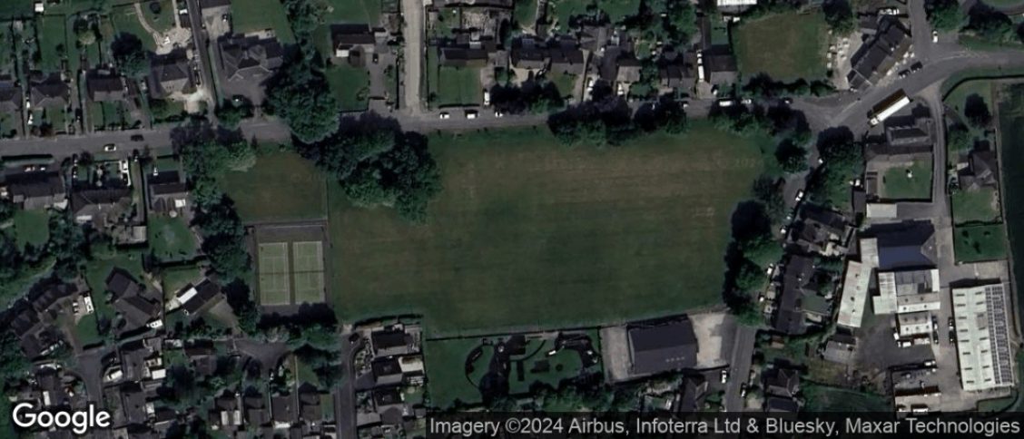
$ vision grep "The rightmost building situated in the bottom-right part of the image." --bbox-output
[953,282,1017,392]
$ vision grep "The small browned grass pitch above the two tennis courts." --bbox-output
[225,136,327,224]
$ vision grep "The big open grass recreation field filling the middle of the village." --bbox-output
[327,117,804,338]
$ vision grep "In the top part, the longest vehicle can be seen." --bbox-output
[871,97,911,124]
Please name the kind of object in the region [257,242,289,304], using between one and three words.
tennis court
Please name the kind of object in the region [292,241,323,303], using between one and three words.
tennis court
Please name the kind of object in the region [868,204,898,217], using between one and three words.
shed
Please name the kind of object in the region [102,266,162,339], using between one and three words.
house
